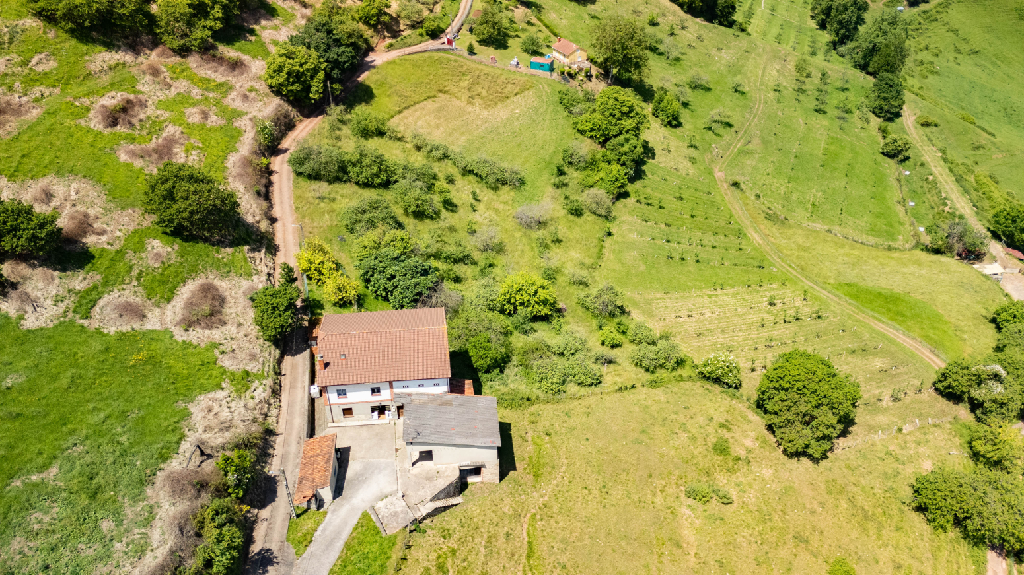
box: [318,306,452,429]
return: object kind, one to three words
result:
house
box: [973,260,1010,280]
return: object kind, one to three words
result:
shed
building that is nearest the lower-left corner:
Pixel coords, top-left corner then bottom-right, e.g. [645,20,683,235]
[294,432,338,517]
